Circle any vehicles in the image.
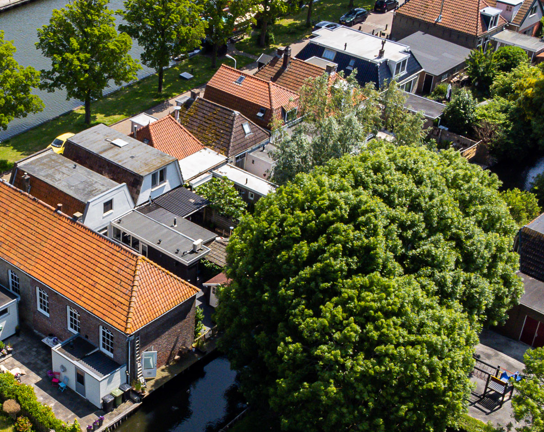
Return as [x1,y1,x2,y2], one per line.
[373,0,398,11]
[336,4,369,25]
[49,130,80,155]
[303,20,336,40]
